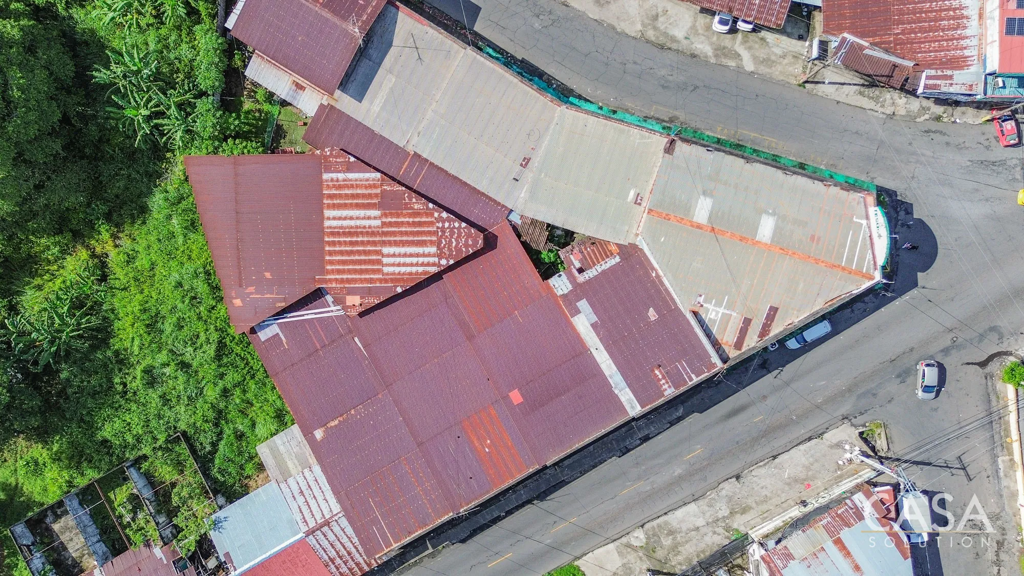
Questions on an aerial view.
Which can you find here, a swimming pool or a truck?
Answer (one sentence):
Visible in the photo is a truck.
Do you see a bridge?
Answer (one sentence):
No, no bridge is visible in the view.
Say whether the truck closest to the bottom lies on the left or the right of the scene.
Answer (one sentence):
You can find the truck closest to the bottom on the right side of the picture.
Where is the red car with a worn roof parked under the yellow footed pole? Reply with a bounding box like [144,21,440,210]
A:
[992,108,1022,152]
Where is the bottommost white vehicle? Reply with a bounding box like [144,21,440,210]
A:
[894,490,931,546]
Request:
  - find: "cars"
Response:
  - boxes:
[738,18,757,34]
[992,108,1022,152]
[914,359,940,401]
[783,318,833,351]
[709,10,732,37]
[1019,190,1024,206]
